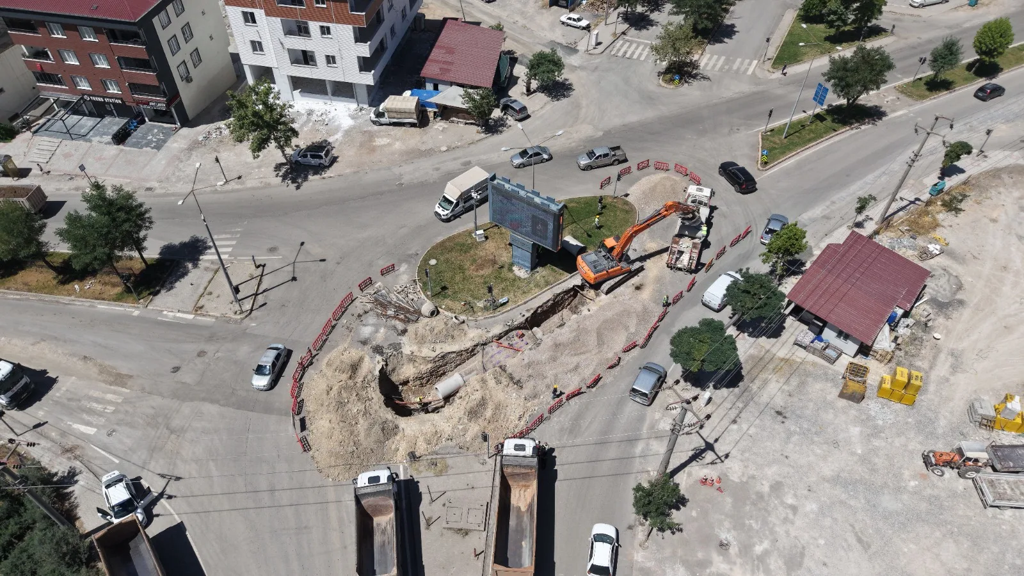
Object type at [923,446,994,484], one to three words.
work vehicle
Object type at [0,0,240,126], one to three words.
building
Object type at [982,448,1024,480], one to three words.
trailer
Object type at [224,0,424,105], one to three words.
building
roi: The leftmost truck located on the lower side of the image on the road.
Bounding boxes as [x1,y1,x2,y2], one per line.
[0,350,38,408]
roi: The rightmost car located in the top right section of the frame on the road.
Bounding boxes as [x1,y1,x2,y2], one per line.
[975,82,1008,103]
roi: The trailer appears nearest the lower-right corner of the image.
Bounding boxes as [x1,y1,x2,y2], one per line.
[975,478,1024,513]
